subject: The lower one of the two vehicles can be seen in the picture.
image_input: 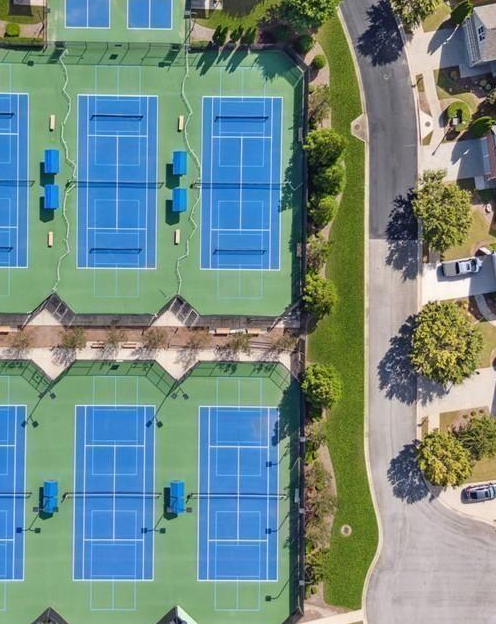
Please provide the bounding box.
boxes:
[467,484,496,503]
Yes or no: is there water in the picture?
No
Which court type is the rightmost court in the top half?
tennis court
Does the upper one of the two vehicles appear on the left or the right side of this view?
right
